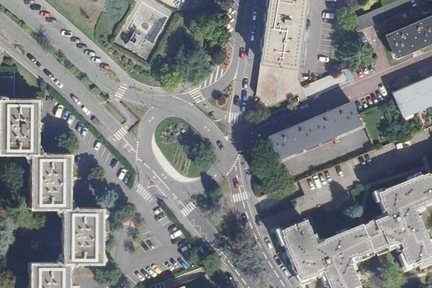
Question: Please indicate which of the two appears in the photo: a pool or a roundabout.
roundabout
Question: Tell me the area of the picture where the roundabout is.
center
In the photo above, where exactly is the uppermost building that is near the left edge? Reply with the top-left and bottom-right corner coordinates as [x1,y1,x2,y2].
[0,98,44,158]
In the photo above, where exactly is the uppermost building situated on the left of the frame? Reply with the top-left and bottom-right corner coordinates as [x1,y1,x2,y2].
[114,0,174,62]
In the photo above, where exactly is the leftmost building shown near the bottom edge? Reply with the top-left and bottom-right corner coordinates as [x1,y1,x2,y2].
[26,262,76,288]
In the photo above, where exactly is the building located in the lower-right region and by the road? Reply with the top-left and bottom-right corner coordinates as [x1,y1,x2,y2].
[280,169,432,288]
